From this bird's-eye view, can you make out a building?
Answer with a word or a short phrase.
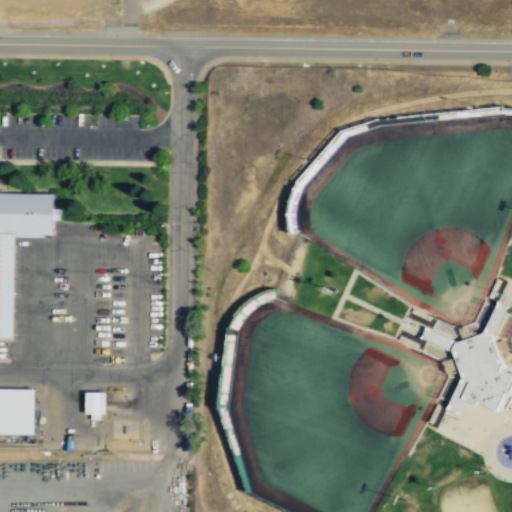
Yes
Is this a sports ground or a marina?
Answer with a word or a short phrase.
sports ground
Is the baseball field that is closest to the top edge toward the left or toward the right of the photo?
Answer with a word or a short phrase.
right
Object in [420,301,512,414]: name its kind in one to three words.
building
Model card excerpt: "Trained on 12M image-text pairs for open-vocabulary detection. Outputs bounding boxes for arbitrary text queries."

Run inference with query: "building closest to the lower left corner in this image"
[0,389,38,436]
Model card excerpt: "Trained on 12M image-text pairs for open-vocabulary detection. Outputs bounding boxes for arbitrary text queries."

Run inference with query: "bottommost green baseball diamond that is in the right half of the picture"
[230,301,448,512]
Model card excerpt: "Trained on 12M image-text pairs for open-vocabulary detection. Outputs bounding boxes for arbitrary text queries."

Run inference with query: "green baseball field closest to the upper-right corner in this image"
[297,114,512,328]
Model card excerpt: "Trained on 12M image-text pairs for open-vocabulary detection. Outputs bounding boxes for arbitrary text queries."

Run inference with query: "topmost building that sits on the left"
[0,193,64,339]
